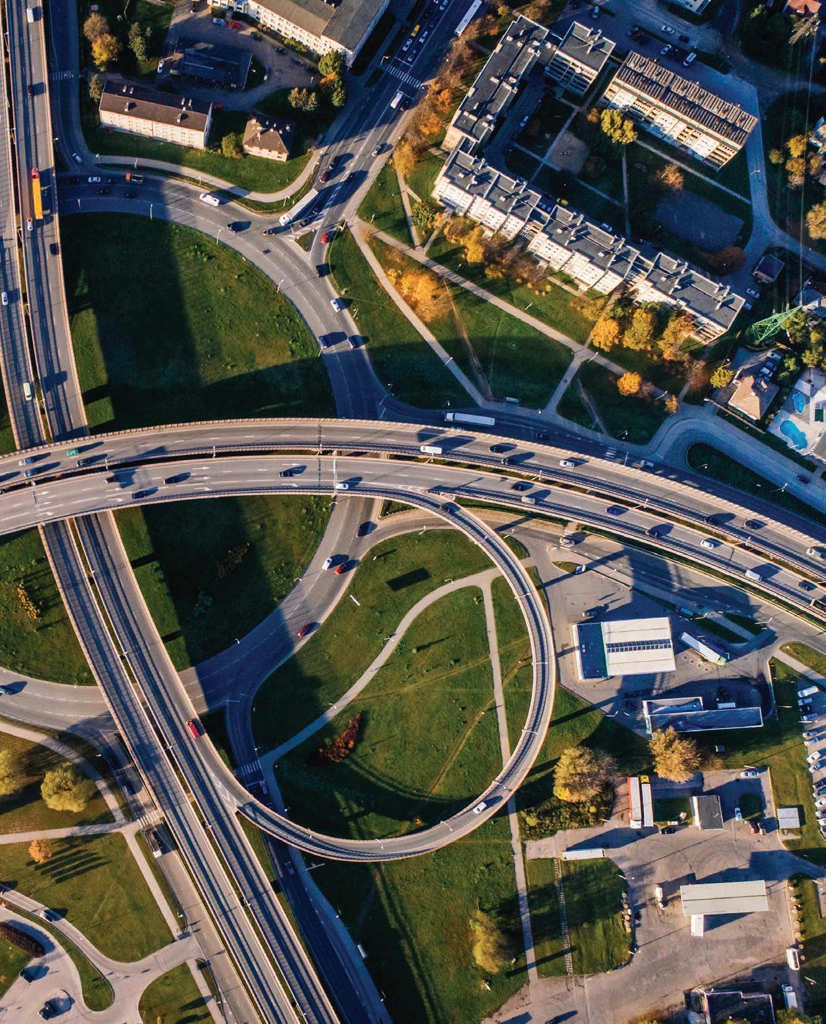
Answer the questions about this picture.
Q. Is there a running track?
No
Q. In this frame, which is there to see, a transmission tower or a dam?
transmission tower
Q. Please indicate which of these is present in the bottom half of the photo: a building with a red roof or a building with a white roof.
building with a white roof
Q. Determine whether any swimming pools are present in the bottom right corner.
No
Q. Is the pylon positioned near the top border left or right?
right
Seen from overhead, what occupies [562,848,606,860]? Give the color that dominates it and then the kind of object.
white vehicle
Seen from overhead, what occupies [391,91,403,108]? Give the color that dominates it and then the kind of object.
white vehicle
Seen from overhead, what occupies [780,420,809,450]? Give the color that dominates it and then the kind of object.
blue swimming pool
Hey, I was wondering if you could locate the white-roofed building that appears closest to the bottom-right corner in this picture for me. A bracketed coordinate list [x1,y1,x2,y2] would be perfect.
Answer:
[687,914,704,937]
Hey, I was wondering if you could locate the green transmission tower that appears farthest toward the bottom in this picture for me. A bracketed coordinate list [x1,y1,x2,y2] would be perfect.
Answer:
[754,305,806,340]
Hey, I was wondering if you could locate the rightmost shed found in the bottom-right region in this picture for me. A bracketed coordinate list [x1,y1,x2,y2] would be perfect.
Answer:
[775,807,801,829]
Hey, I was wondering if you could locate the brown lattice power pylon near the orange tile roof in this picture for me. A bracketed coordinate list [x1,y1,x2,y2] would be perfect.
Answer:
[779,17,819,63]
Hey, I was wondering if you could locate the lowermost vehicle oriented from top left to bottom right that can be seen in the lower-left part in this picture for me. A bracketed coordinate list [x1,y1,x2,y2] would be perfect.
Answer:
[19,969,34,985]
